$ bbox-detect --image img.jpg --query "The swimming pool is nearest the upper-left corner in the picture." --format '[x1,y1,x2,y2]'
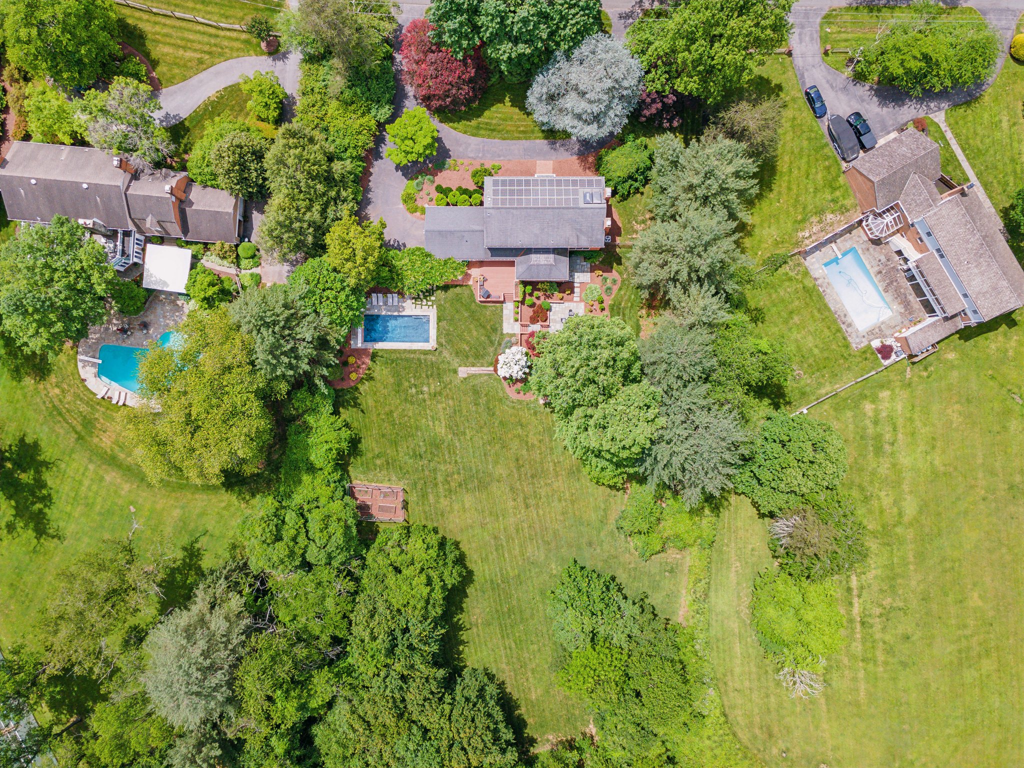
[97,330,204,403]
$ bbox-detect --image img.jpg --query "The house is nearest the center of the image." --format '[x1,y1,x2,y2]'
[425,174,611,281]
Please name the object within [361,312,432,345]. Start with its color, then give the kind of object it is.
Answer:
blue swimming pool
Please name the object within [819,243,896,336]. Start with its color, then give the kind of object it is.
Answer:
white swimming pool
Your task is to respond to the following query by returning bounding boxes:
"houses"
[0,141,246,245]
[846,127,1024,354]
[425,174,611,281]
